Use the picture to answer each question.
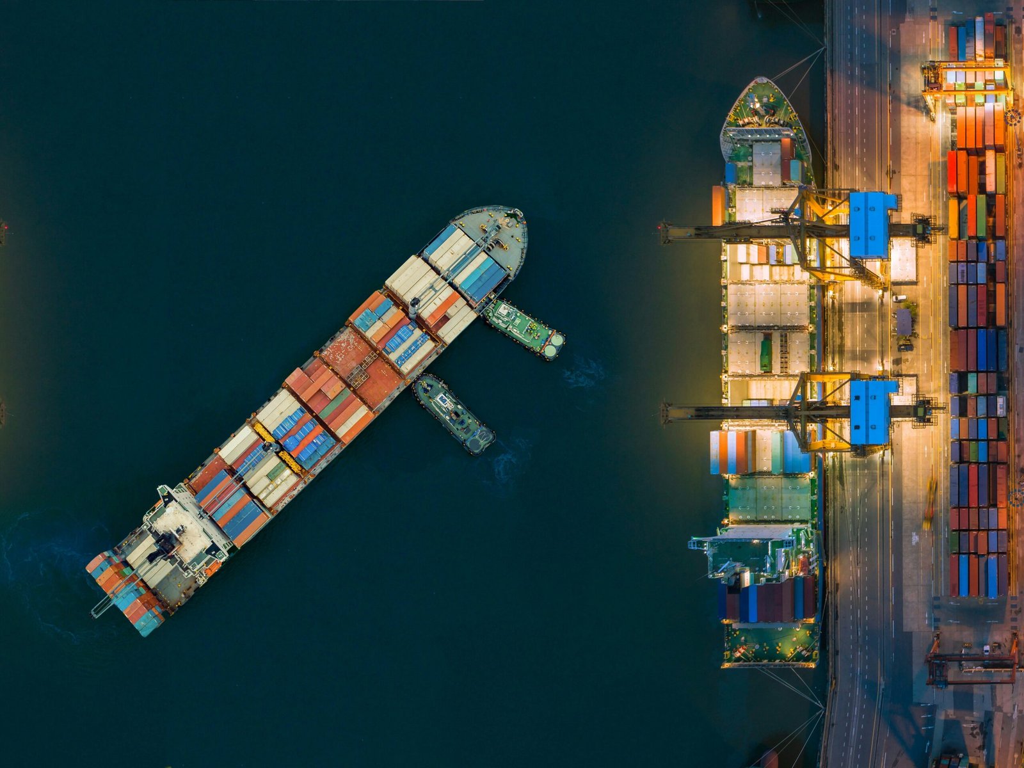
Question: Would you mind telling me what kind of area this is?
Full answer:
What you see here is a port.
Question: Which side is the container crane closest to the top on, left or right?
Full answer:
It is on the right.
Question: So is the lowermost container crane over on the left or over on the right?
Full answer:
The lowermost container crane sits on the right side.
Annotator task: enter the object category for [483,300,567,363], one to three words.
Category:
boat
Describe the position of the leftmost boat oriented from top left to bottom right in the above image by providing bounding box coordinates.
[410,372,498,457]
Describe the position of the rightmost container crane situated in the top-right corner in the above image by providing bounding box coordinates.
[921,61,1012,124]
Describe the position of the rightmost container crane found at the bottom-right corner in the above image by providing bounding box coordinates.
[925,632,1020,688]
